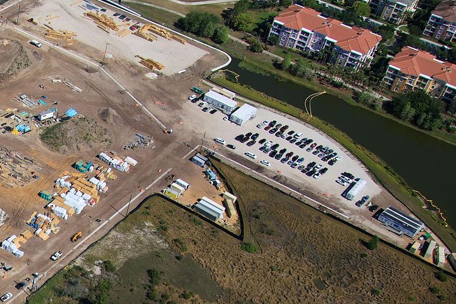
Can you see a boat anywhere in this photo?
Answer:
No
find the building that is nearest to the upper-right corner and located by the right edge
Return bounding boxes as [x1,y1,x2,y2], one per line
[423,5,456,48]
